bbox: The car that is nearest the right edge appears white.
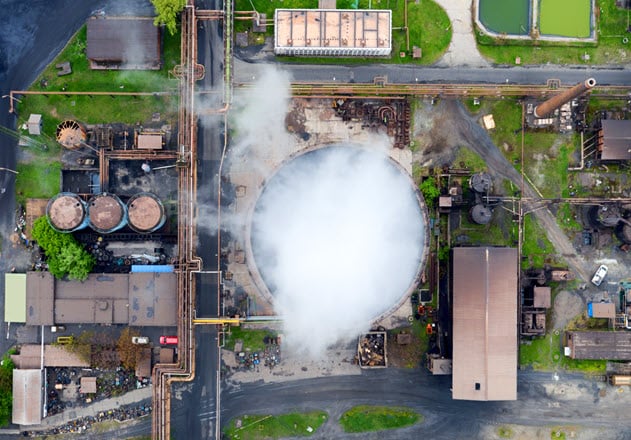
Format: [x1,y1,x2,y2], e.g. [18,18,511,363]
[589,264,609,286]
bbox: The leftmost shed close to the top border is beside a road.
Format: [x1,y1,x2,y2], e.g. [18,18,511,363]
[86,16,162,68]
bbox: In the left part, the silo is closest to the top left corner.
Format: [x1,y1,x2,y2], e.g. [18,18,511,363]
[57,120,100,157]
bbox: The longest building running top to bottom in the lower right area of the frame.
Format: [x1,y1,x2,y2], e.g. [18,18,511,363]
[446,248,520,402]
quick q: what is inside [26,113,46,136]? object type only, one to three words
shed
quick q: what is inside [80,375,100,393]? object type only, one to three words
shed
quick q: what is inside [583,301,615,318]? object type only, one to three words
building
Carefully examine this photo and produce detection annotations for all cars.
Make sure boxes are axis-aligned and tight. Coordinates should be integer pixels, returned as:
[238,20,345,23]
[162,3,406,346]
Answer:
[160,335,178,344]
[132,335,150,344]
[589,264,609,286]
